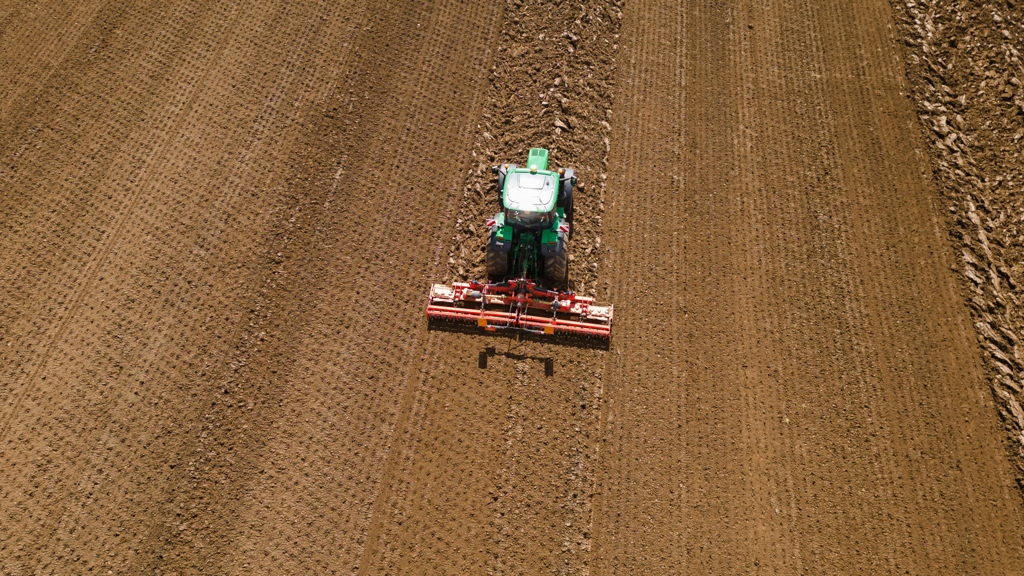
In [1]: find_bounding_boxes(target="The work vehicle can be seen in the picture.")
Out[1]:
[484,147,576,282]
